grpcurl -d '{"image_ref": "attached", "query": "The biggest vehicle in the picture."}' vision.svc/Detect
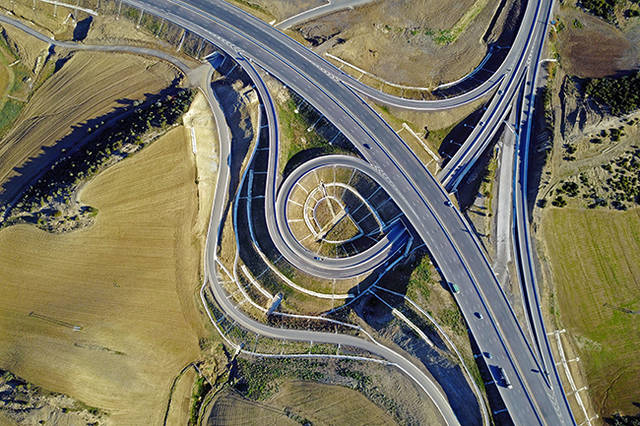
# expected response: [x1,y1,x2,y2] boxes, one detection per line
[501,368,514,388]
